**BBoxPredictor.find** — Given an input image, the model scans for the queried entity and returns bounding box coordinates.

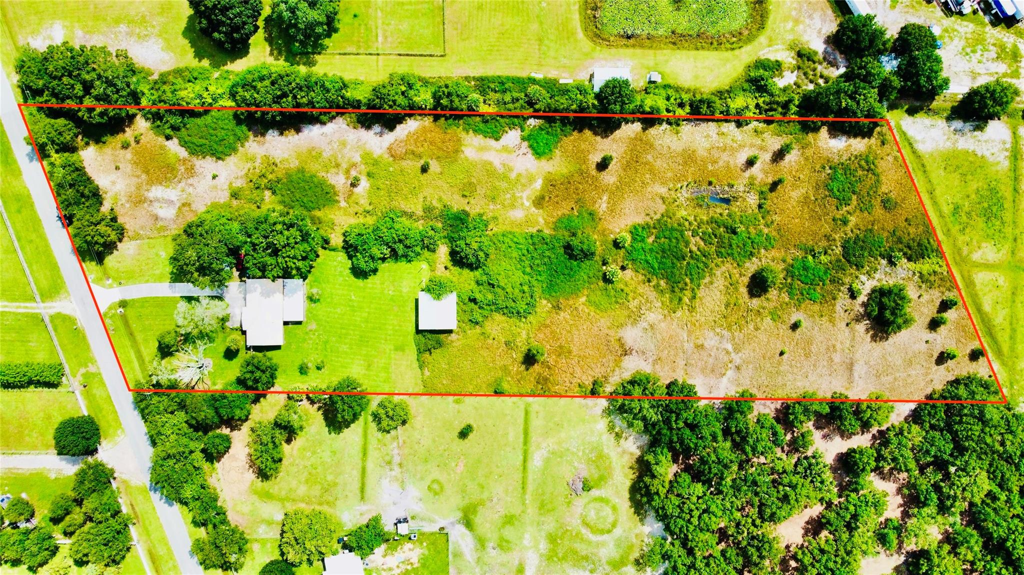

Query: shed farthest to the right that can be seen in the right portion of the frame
[876,51,901,72]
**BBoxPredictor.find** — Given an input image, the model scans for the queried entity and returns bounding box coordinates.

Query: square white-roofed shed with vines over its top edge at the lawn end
[419,292,456,330]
